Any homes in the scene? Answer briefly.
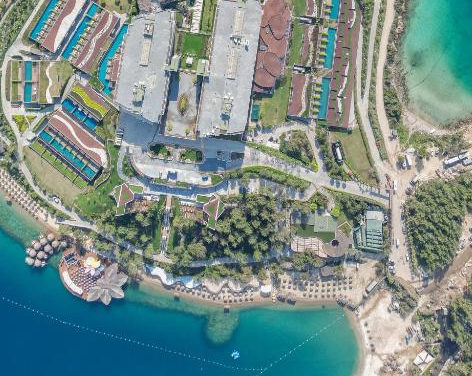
Yes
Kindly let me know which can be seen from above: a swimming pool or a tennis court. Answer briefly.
swimming pool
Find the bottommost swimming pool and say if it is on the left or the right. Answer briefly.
left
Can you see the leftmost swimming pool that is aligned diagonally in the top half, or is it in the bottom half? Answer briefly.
top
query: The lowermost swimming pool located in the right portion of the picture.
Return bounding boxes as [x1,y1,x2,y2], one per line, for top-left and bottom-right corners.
[317,77,330,119]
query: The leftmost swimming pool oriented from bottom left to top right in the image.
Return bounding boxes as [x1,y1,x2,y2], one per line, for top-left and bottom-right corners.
[29,0,60,41]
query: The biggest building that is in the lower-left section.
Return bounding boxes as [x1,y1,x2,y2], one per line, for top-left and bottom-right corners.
[59,248,129,306]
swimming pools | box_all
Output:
[97,24,128,94]
[328,0,340,21]
[62,14,92,60]
[72,107,86,122]
[83,116,98,131]
[317,77,330,119]
[62,98,75,114]
[322,29,336,70]
[23,83,32,103]
[29,0,60,41]
[39,128,98,179]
